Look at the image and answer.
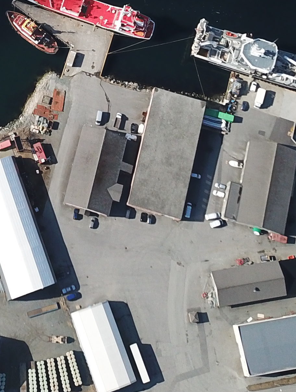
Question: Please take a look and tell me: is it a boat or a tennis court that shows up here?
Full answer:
Looking from above, you can make out a boat.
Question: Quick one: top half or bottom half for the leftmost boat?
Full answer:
You can find the leftmost boat in the top half.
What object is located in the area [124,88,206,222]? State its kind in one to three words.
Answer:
building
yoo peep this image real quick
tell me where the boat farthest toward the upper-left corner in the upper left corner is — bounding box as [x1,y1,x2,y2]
[5,10,59,54]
